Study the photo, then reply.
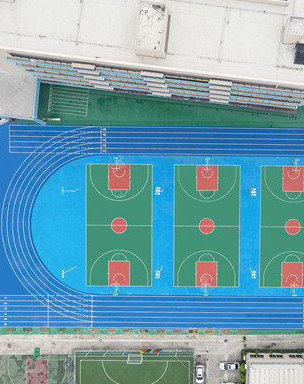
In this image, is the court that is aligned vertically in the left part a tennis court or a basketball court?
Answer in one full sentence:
Specifically, the court that is aligned vertically in the left part is a basketball court.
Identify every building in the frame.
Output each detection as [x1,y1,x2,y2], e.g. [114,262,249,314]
[0,0,304,117]
[247,352,304,384]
